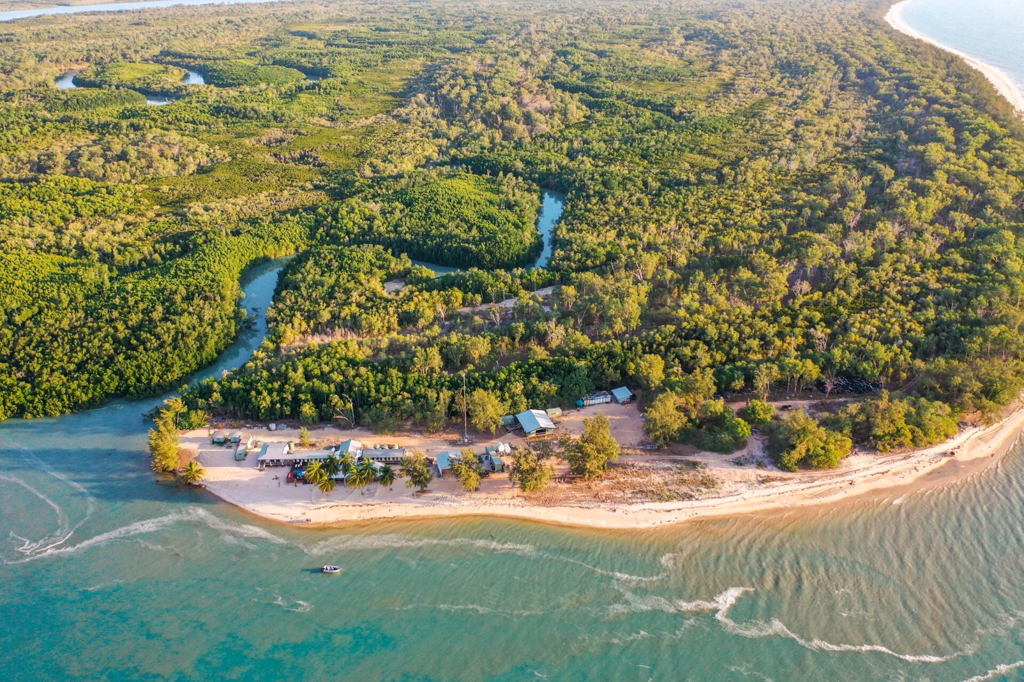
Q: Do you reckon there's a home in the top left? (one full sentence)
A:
No, the scene shows no home in the top left.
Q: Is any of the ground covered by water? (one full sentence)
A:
Yes, there is water in the image.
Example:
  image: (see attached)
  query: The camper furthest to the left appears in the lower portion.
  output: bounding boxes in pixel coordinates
[235,445,248,460]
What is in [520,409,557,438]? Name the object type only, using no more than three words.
house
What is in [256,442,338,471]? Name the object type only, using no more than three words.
building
